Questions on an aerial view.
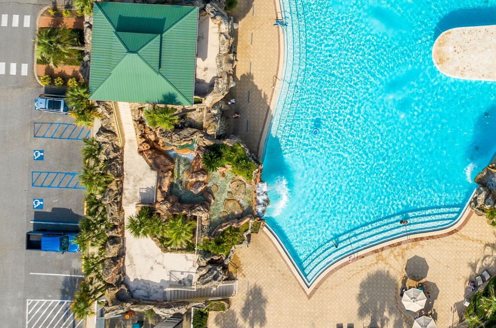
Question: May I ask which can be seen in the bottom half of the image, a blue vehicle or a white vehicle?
blue vehicle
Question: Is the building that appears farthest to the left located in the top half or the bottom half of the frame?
top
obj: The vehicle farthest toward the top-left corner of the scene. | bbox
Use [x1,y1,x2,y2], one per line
[33,94,72,116]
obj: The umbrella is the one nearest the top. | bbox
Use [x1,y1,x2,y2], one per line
[402,287,426,311]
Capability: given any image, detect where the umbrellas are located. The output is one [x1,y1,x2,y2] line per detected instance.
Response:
[402,287,426,311]
[412,314,437,328]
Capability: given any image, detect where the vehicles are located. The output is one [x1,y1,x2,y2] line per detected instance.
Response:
[25,228,80,253]
[33,94,72,116]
